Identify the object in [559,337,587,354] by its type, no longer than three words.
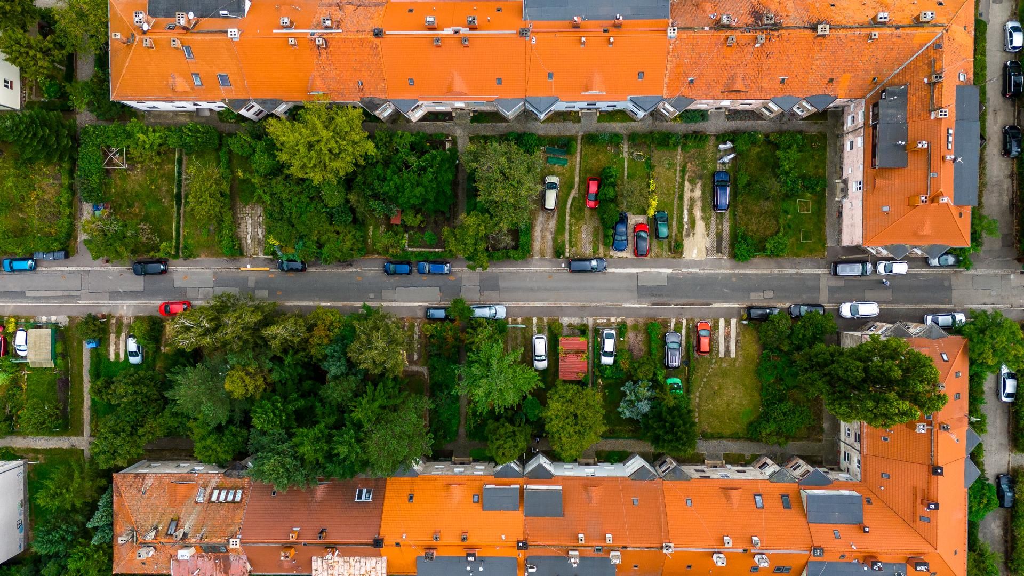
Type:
shed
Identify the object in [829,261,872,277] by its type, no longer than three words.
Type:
car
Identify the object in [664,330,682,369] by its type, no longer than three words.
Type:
car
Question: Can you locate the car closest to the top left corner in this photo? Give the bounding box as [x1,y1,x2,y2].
[4,257,39,273]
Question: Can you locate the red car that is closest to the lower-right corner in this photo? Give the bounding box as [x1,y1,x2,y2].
[696,320,712,355]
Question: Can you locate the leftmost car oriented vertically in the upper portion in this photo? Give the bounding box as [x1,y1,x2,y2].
[543,175,559,211]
